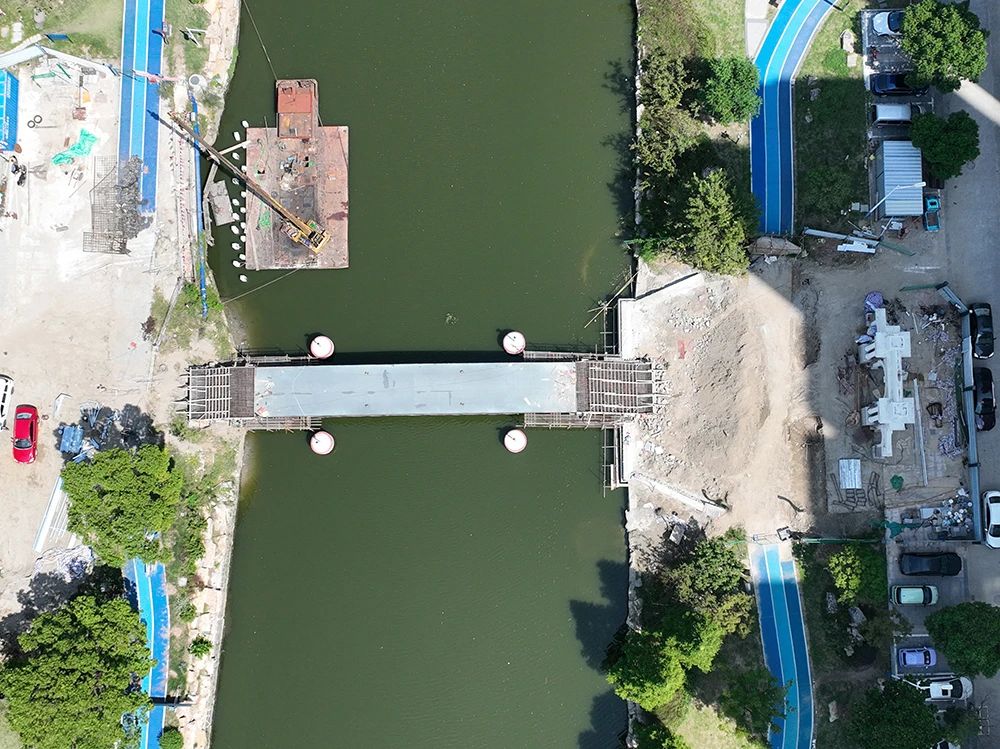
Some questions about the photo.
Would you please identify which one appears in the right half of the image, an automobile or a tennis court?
automobile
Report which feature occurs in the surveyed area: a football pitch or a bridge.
bridge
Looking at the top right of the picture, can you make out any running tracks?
Yes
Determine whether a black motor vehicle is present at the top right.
Yes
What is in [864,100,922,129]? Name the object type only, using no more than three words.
car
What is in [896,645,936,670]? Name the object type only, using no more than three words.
car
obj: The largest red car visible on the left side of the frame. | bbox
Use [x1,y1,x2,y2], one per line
[9,404,44,463]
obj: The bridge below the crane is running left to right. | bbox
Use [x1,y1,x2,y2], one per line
[178,358,681,420]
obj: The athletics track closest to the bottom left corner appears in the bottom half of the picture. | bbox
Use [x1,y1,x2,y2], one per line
[119,552,170,749]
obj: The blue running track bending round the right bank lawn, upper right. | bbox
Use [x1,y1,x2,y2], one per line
[750,0,836,236]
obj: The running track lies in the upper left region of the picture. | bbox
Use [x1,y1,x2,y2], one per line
[117,0,165,213]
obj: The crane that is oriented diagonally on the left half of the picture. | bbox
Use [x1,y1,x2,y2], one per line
[165,106,332,256]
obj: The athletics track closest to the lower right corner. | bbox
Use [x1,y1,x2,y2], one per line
[749,543,814,749]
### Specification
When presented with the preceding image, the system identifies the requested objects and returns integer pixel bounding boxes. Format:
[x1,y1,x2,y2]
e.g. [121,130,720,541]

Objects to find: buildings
[875,140,932,216]
[0,68,19,151]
